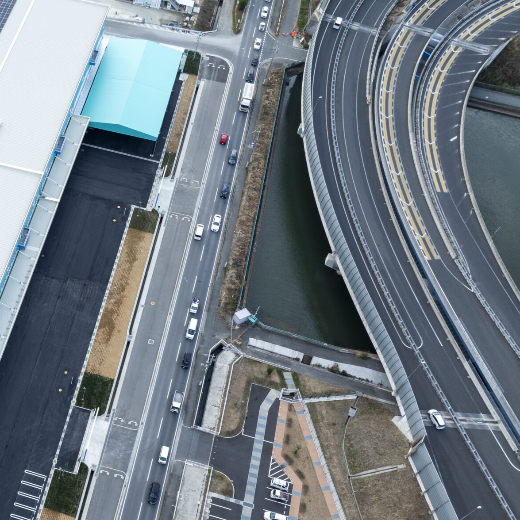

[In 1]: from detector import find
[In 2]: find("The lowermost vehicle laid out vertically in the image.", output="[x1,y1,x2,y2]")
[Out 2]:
[146,482,160,506]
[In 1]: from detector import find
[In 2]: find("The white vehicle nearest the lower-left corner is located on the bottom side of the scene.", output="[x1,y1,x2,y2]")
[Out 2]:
[157,443,170,468]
